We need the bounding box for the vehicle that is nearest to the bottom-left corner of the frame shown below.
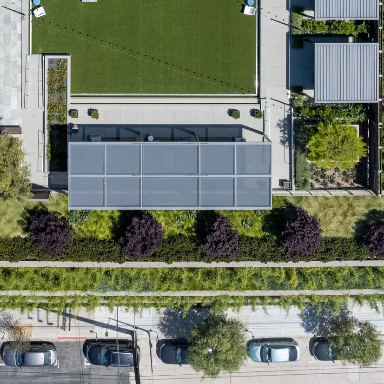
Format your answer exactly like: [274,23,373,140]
[0,342,57,373]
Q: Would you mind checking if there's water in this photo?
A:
No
